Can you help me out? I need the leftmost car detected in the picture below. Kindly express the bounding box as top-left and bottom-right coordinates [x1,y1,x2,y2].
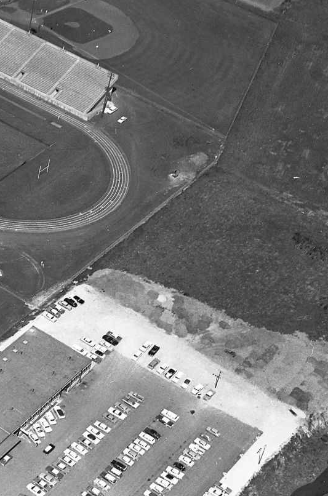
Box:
[0,453,14,467]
